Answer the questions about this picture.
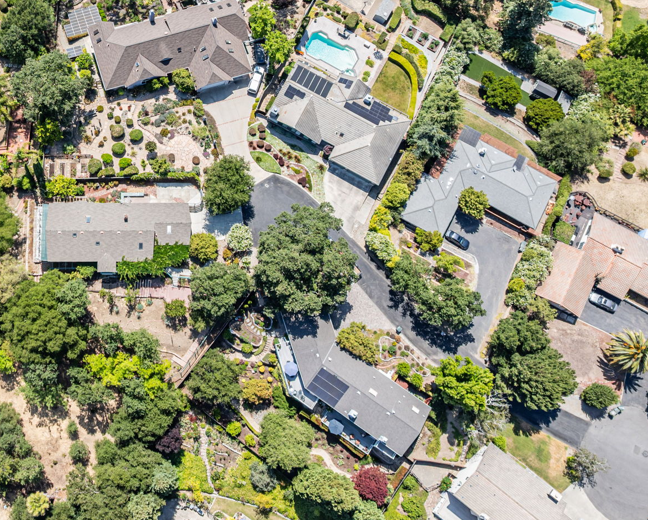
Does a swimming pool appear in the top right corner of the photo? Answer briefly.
Yes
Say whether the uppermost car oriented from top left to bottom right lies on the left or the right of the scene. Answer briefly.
right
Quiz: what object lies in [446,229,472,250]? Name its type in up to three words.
car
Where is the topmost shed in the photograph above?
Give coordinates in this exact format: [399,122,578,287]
[372,0,395,23]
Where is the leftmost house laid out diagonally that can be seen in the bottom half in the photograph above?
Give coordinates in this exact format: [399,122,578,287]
[281,311,431,457]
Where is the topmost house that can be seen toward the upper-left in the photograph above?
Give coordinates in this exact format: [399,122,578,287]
[88,0,252,93]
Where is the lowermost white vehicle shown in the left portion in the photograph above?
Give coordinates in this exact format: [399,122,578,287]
[247,65,265,93]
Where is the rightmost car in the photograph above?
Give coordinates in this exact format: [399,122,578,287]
[590,292,620,313]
